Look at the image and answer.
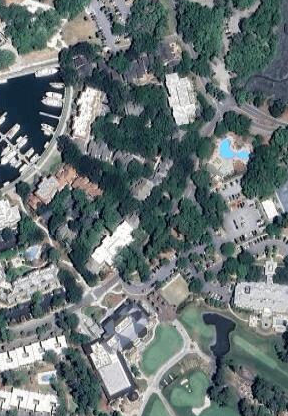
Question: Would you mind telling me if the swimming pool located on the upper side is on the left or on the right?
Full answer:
It is on the right.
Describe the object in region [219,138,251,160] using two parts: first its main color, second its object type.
blue swimming pool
